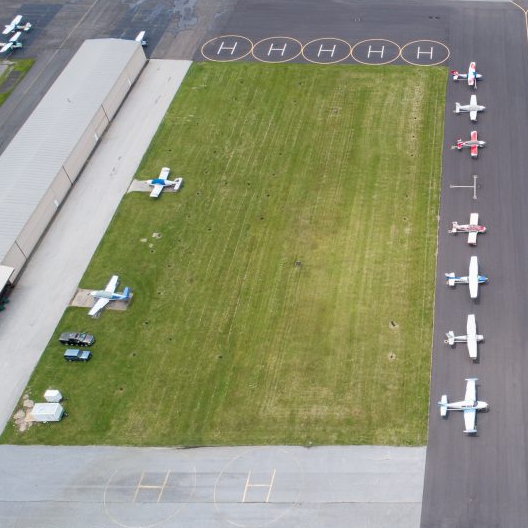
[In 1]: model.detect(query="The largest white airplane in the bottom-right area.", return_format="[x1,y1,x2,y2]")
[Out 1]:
[440,379,488,431]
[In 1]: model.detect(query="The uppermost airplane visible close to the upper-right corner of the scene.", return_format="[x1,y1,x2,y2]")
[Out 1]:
[452,62,483,84]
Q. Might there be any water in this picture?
No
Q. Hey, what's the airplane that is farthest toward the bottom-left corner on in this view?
grass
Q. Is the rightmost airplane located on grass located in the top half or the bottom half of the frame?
top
